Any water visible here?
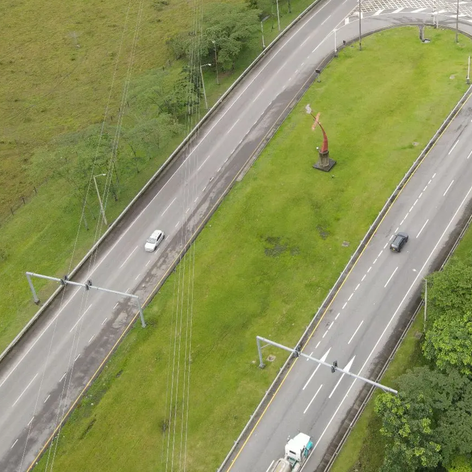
No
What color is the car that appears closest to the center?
white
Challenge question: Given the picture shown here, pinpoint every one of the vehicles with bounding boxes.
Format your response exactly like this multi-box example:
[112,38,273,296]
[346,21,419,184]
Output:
[271,430,315,472]
[141,226,166,252]
[387,231,409,254]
